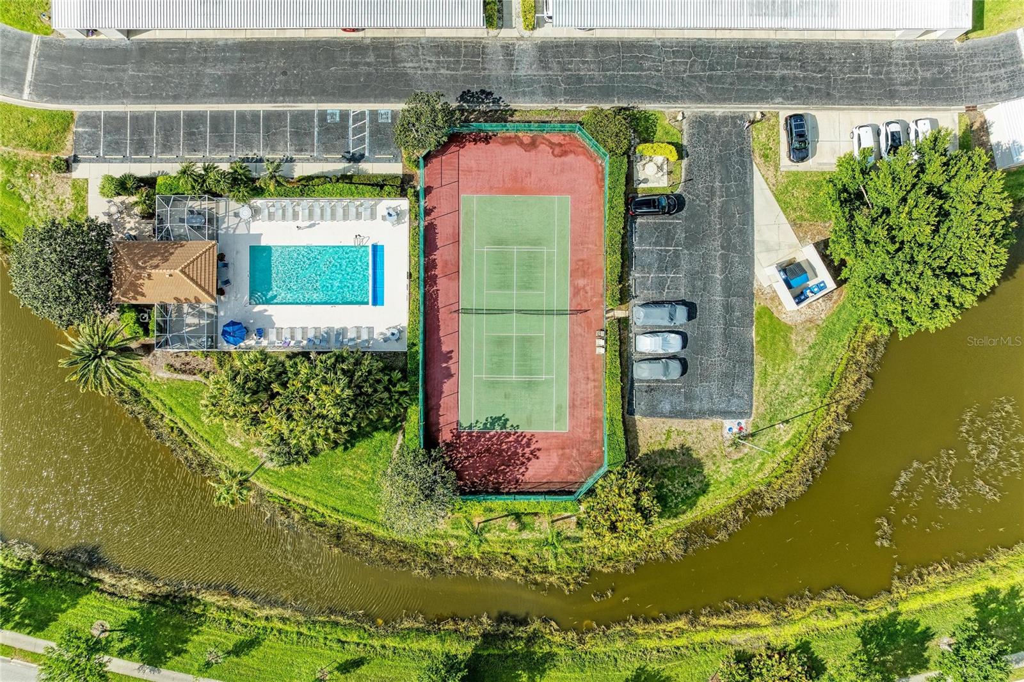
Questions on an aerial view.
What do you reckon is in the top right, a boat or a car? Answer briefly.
car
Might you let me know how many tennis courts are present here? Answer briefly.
1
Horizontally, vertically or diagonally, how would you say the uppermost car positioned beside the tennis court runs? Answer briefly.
horizontally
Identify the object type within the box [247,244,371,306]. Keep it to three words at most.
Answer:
swimming pool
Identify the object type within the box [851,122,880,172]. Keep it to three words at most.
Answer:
car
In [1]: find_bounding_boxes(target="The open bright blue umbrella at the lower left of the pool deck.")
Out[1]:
[223,321,248,346]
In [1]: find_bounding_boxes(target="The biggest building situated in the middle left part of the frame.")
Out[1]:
[111,239,224,305]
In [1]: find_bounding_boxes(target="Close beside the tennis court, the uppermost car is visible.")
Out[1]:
[628,192,678,215]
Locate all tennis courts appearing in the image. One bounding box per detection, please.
[424,132,605,497]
